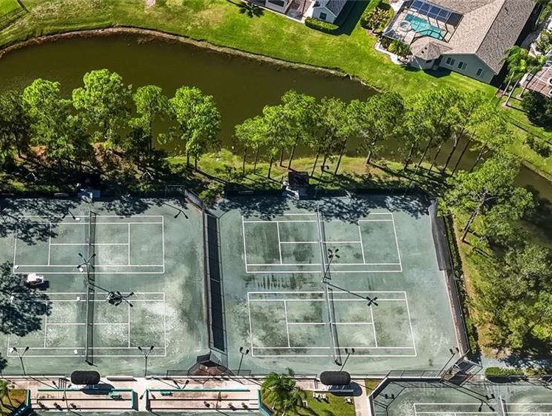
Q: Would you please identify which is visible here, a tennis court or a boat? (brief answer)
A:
tennis court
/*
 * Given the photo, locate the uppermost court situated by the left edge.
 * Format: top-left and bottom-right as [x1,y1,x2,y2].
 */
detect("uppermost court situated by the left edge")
[0,195,206,283]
